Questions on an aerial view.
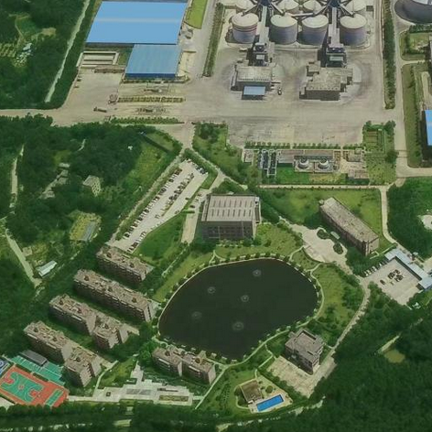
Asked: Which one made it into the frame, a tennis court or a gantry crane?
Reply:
tennis court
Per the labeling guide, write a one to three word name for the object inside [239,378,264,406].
building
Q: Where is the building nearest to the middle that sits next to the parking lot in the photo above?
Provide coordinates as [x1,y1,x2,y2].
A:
[203,194,260,239]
